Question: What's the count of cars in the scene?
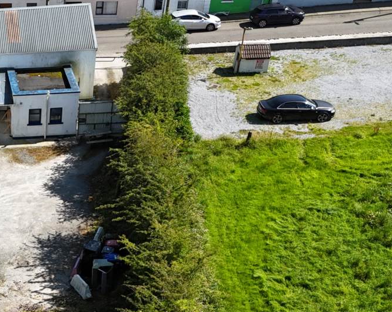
3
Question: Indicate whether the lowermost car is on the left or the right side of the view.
right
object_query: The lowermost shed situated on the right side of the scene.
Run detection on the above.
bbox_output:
[225,41,272,73]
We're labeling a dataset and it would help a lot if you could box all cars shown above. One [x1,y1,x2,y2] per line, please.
[259,93,338,123]
[177,9,221,31]
[247,2,304,28]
